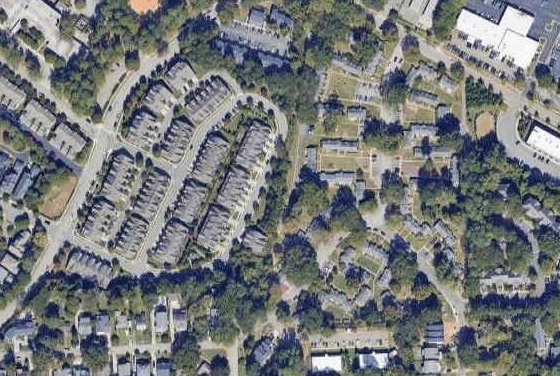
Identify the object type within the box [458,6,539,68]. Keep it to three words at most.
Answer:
building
